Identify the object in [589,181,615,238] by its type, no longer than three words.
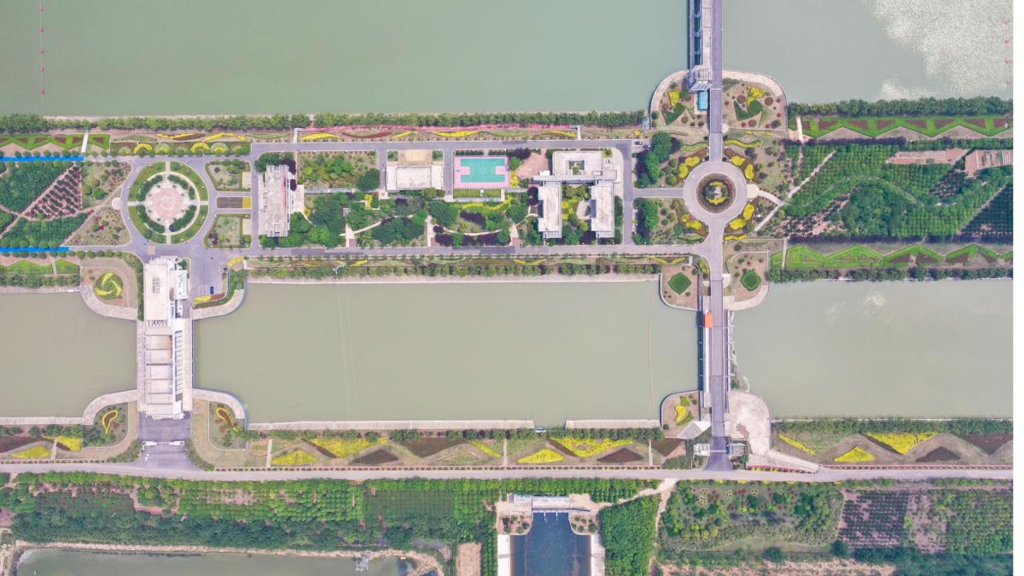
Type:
building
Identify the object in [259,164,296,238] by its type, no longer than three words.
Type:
building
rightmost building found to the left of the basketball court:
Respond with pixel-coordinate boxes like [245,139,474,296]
[386,165,444,190]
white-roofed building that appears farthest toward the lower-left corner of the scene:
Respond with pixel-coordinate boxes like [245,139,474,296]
[143,256,196,323]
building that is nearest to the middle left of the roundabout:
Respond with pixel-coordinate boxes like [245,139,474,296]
[538,181,562,239]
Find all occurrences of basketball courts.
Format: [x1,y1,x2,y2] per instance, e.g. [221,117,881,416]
[454,156,510,189]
